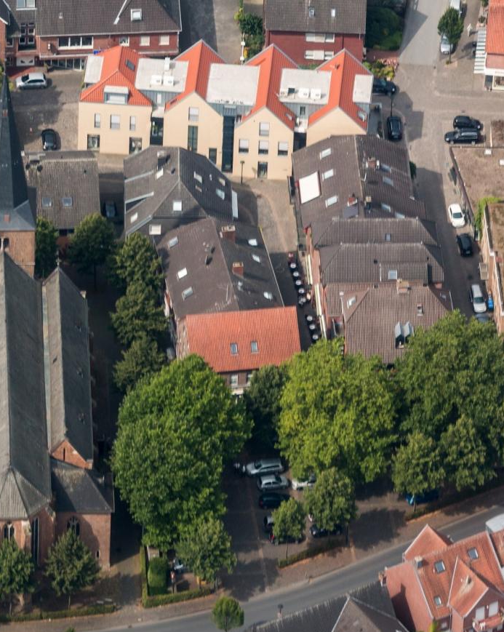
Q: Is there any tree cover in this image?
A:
Yes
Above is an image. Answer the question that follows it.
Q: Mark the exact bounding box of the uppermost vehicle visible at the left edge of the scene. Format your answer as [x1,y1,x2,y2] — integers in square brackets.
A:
[15,73,49,89]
